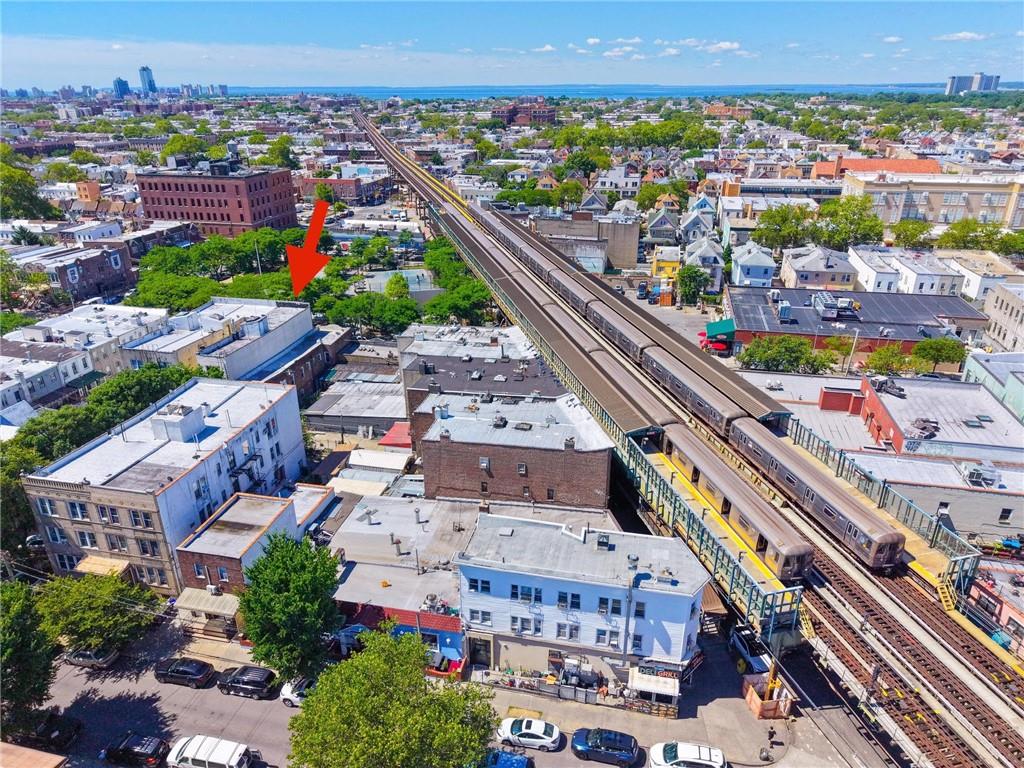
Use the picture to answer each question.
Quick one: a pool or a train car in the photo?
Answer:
train car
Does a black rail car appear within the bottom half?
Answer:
No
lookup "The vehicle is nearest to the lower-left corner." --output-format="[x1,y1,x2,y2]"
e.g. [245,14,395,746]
[18,712,89,754]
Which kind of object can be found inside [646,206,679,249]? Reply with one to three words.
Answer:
house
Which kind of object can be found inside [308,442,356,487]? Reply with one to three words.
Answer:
shed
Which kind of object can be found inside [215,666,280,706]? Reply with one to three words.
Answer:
car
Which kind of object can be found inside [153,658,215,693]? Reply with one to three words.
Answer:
car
